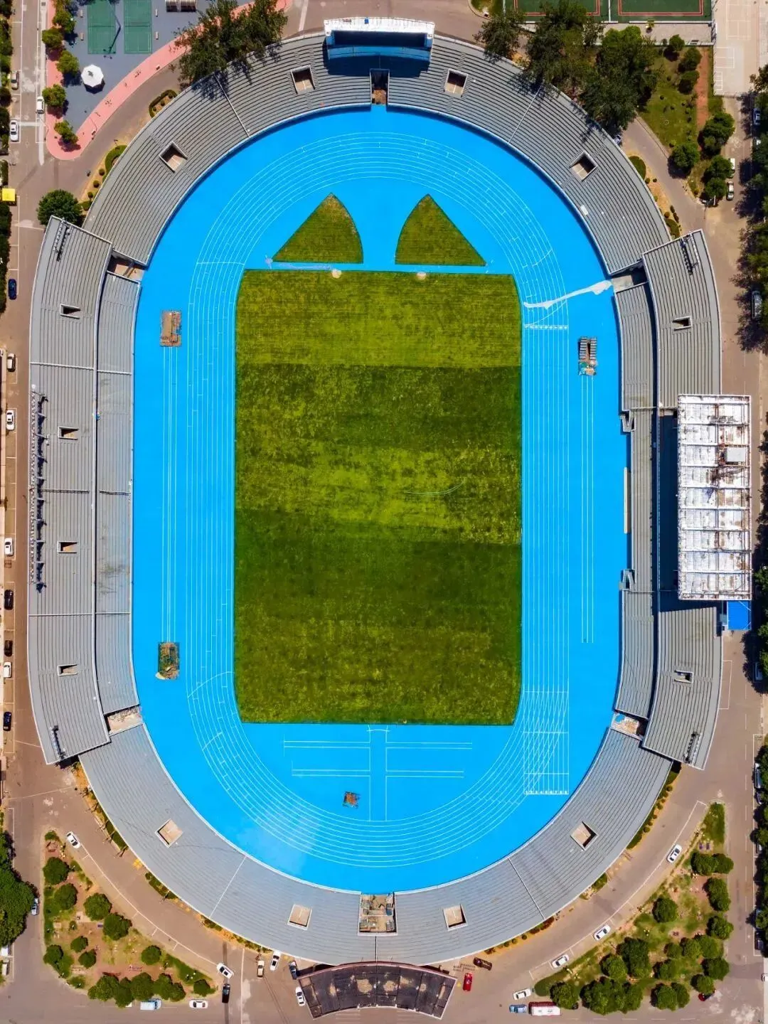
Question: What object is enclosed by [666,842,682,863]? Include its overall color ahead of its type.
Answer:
white car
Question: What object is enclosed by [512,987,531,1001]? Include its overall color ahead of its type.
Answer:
white car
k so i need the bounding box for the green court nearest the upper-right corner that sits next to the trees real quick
[611,0,711,21]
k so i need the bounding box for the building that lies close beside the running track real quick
[297,963,457,1020]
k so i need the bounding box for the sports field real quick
[233,269,523,726]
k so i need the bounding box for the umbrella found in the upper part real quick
[82,65,104,87]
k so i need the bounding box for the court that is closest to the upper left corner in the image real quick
[85,0,115,54]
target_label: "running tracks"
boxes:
[135,107,629,889]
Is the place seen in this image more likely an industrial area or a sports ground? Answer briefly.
sports ground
